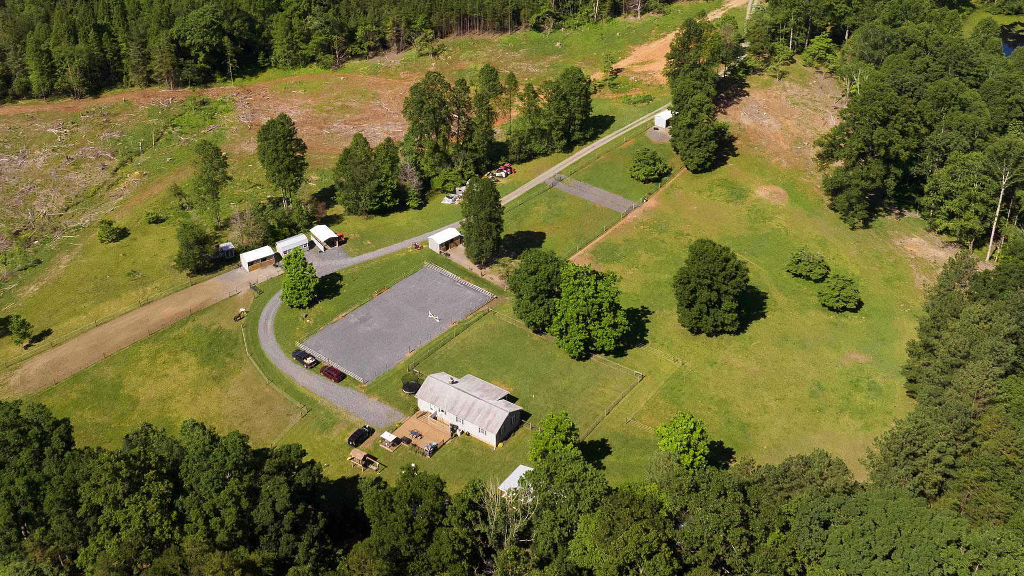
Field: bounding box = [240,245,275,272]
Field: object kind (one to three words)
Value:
shed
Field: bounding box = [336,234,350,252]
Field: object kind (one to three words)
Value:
work vehicle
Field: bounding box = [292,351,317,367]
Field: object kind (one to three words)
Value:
vehicle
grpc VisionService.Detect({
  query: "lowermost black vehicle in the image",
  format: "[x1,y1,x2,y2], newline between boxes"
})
[348,429,374,447]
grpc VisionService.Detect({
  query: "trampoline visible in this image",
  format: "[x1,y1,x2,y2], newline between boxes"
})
[401,376,420,395]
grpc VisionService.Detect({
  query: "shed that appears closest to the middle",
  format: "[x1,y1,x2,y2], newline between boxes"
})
[428,227,460,254]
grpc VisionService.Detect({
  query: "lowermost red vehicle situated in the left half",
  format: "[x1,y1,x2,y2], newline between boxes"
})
[320,366,343,381]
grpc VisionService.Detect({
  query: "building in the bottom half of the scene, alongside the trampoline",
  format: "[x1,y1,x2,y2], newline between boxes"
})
[415,372,522,450]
